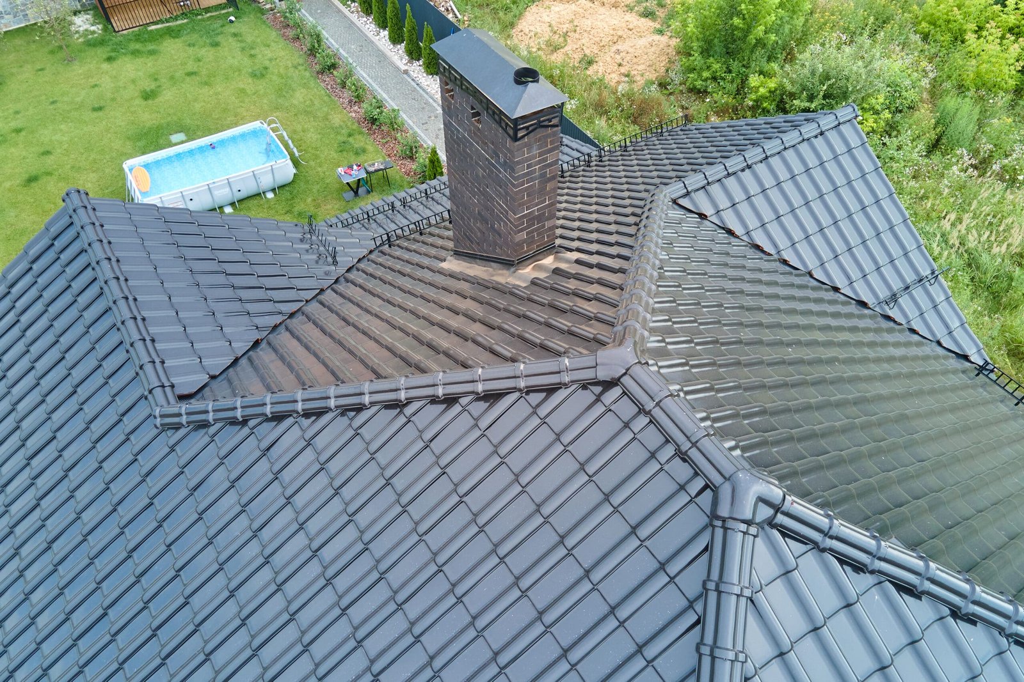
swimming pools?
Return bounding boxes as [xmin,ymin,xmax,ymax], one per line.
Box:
[122,119,298,215]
